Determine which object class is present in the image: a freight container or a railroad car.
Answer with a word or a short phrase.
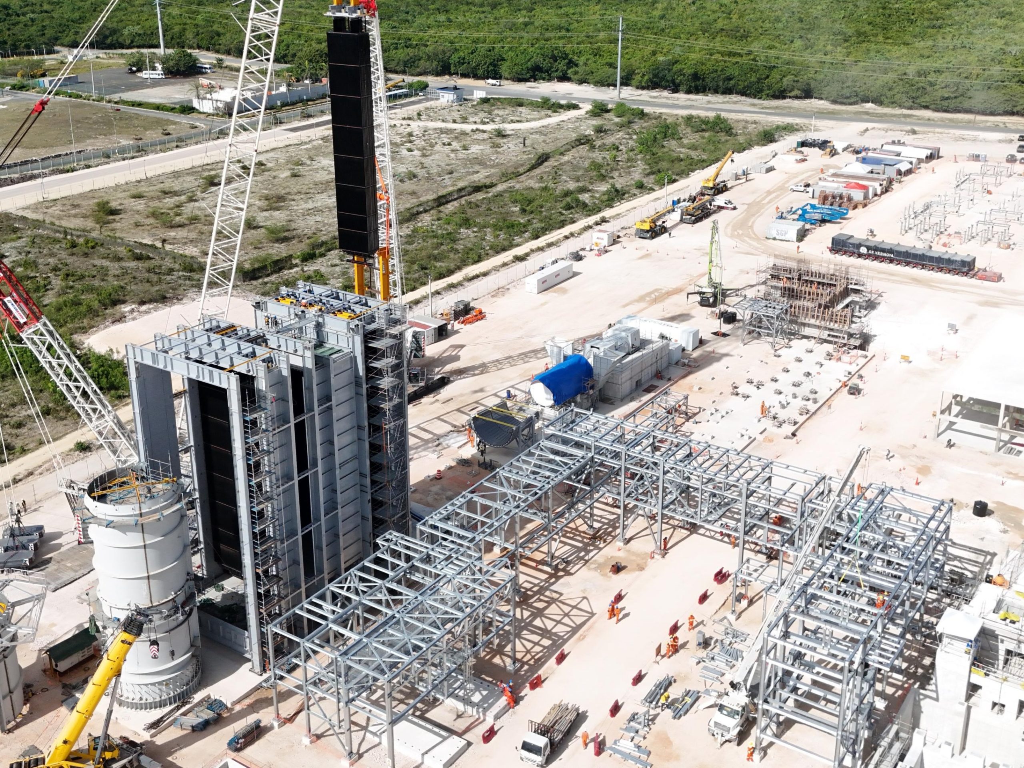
freight container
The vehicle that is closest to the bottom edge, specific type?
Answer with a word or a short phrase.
truck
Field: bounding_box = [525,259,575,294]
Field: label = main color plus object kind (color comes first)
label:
white shipping container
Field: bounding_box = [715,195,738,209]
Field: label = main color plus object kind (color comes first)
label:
white vehicle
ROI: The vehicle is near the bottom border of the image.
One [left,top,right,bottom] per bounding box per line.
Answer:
[518,698,586,765]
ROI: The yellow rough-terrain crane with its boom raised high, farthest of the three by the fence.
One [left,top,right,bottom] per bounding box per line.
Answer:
[706,127,736,193]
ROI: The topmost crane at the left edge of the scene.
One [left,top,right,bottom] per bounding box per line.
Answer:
[0,0,302,560]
